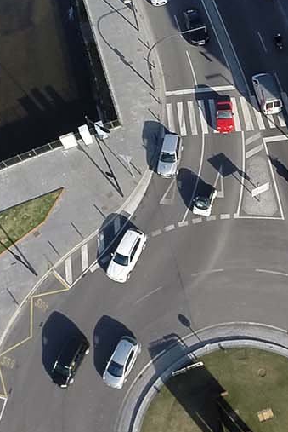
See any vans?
Yes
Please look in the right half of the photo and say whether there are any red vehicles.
Yes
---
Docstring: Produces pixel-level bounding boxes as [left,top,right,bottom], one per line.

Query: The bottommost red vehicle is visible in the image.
[214,92,236,132]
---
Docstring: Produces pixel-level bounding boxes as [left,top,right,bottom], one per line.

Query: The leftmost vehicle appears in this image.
[51,332,92,388]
